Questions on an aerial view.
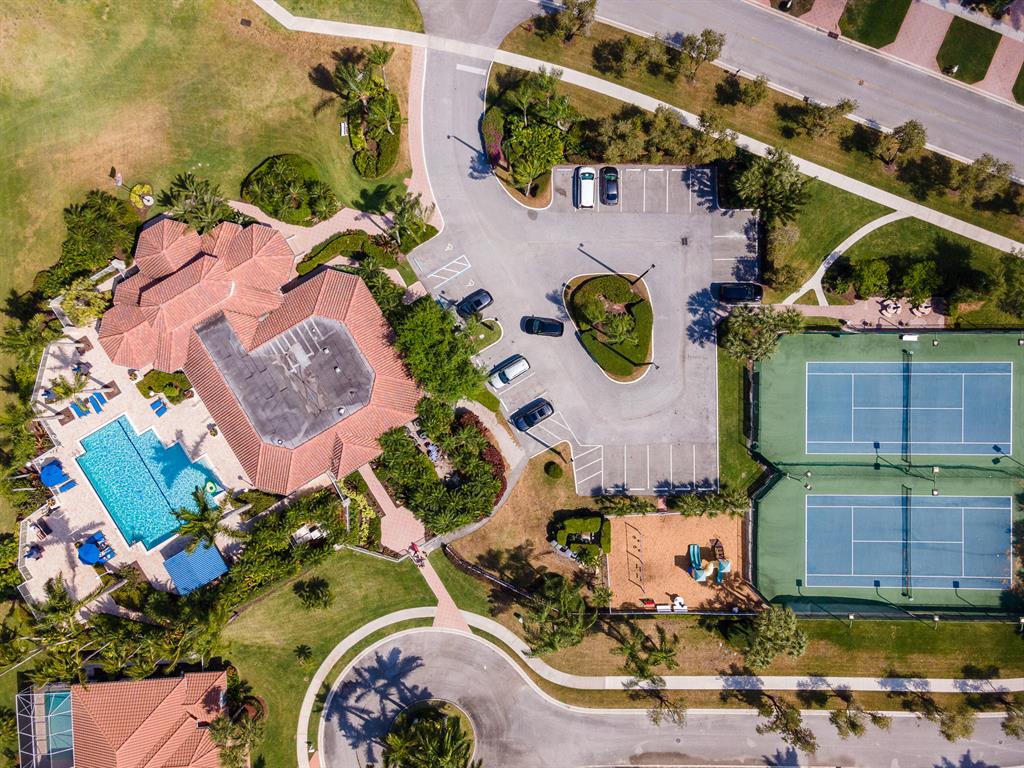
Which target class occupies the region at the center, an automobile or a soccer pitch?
automobile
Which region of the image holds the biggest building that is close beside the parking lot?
left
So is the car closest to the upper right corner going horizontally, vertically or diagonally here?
horizontally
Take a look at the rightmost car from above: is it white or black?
black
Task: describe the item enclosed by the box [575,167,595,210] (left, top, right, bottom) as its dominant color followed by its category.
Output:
white car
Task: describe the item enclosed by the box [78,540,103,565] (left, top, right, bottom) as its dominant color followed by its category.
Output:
blue umbrella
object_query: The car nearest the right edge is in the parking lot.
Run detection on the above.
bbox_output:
[712,282,760,302]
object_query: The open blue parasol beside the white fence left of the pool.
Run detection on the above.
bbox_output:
[42,461,67,486]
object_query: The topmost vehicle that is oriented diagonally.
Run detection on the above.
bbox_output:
[455,288,496,319]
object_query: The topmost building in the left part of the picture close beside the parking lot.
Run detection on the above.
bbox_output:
[98,218,423,496]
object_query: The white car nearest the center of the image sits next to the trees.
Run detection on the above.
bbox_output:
[487,356,530,389]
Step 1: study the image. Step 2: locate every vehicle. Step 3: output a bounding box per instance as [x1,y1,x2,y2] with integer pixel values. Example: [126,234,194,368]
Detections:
[599,166,619,207]
[455,288,496,319]
[521,316,565,337]
[712,282,760,302]
[511,397,554,430]
[487,356,530,389]
[575,167,595,210]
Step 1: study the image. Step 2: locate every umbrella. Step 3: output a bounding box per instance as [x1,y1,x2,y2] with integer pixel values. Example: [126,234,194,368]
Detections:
[42,461,67,486]
[78,540,103,565]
